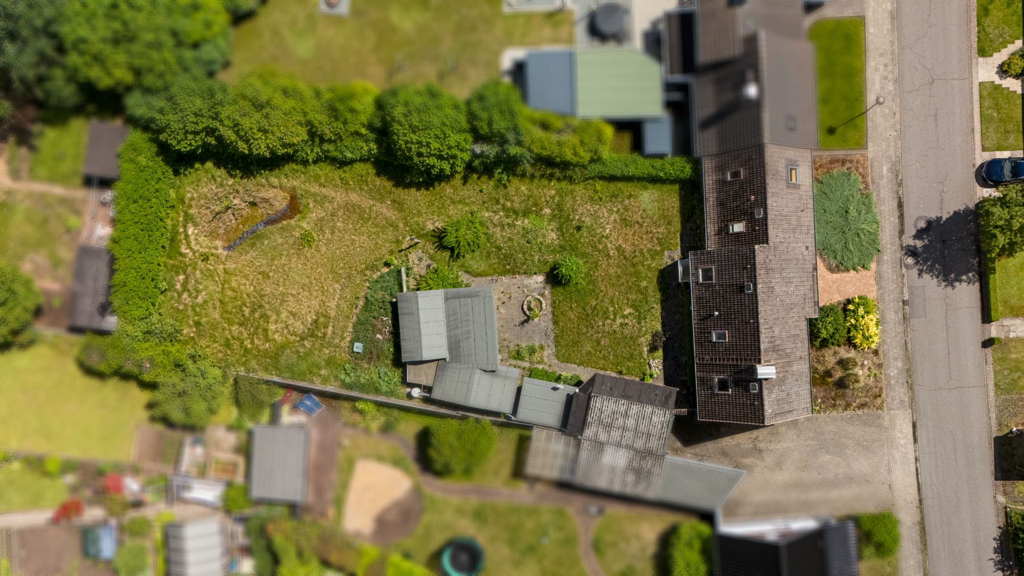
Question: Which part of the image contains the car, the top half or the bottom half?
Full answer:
Seen from above, the car lies in the top half of the view.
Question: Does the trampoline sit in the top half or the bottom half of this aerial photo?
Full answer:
The trampoline is in the bottom half of the image.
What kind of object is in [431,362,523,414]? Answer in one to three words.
shed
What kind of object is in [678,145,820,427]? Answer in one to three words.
house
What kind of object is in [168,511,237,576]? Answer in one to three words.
shed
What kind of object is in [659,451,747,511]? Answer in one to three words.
building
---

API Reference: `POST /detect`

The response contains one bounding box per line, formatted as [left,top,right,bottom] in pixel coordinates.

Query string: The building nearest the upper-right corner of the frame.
[664,0,824,159]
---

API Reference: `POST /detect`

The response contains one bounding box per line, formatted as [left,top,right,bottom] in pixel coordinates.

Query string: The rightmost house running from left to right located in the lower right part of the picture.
[714,510,857,576]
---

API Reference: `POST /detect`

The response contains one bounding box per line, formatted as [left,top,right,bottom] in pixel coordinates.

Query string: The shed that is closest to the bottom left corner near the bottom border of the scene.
[83,521,126,560]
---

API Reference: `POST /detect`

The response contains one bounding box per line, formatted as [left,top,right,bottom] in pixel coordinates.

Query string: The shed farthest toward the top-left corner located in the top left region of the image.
[85,122,146,179]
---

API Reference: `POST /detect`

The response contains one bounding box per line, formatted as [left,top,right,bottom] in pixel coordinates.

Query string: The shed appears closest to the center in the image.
[446,286,502,368]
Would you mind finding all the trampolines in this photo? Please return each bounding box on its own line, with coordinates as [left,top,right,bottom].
[436,532,486,576]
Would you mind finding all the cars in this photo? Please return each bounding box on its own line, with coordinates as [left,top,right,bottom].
[982,158,1024,184]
